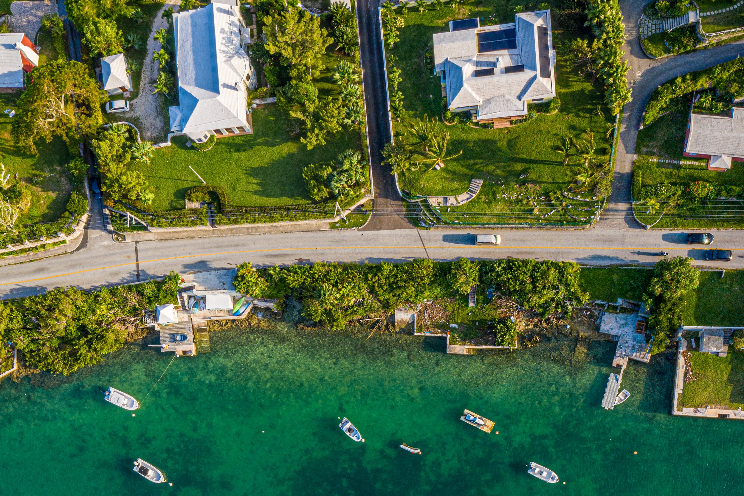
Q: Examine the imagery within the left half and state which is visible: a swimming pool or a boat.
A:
boat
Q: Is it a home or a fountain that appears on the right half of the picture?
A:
home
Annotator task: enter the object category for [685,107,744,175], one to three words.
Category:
house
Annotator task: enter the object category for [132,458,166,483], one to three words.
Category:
boat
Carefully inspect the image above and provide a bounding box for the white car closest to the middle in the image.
[475,232,501,247]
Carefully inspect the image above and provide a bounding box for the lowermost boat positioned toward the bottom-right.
[525,462,559,483]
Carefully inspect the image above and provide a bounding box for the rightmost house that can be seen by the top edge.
[434,10,556,130]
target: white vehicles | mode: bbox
[107,101,129,114]
[475,232,501,247]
